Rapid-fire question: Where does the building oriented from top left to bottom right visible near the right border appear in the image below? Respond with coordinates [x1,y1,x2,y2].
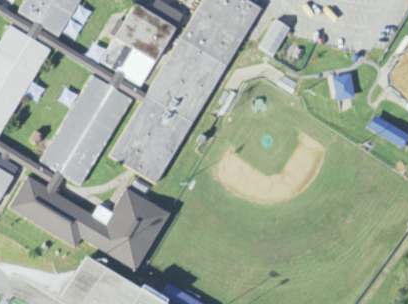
[368,114,408,148]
